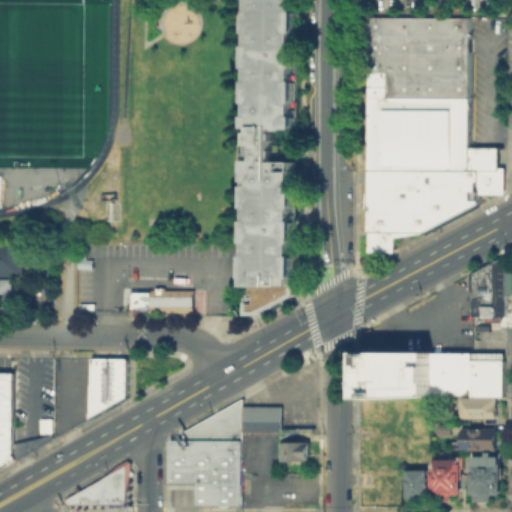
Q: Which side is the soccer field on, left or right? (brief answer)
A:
left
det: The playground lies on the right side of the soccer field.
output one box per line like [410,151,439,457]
[161,2,204,46]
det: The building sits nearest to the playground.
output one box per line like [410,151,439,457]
[233,0,294,288]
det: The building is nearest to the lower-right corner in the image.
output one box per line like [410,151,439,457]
[468,452,502,500]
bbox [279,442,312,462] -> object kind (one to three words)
house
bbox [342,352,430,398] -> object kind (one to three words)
building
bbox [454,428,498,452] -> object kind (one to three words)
house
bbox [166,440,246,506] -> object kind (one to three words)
building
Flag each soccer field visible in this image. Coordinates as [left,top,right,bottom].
[0,0,110,168]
